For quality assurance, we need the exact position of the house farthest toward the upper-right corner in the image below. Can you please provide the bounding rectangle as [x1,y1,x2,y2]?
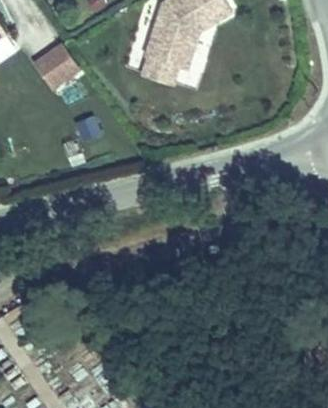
[126,0,238,88]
